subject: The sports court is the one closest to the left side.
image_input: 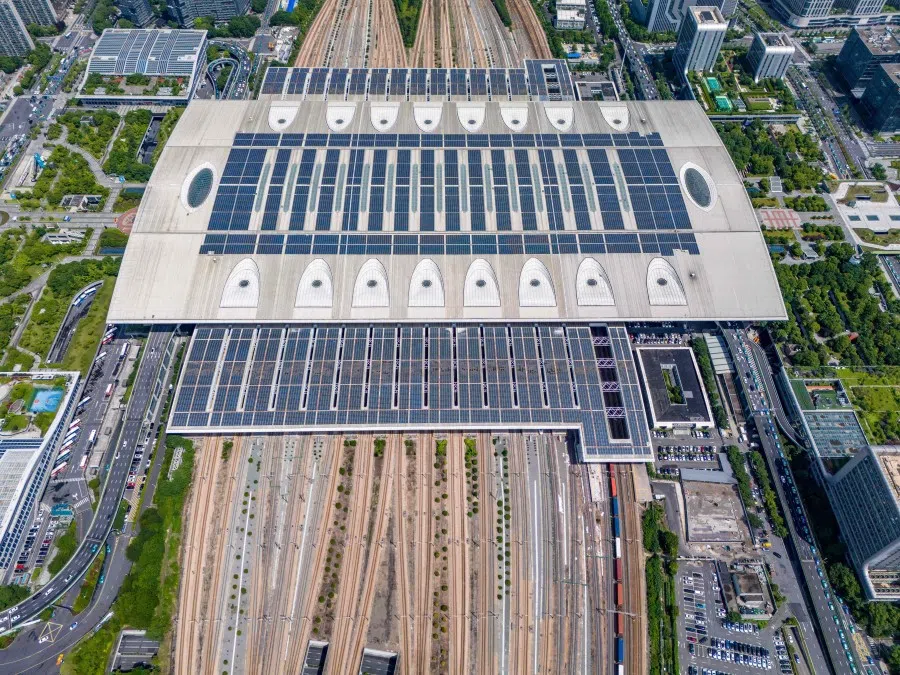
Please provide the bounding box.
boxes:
[25,387,66,412]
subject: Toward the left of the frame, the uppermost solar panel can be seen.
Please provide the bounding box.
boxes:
[90,27,202,72]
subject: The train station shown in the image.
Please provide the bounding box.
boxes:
[105,59,788,468]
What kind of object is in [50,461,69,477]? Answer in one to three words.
vehicle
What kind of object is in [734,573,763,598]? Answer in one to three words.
building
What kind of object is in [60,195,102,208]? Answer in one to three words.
building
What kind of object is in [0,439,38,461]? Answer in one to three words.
solar panel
